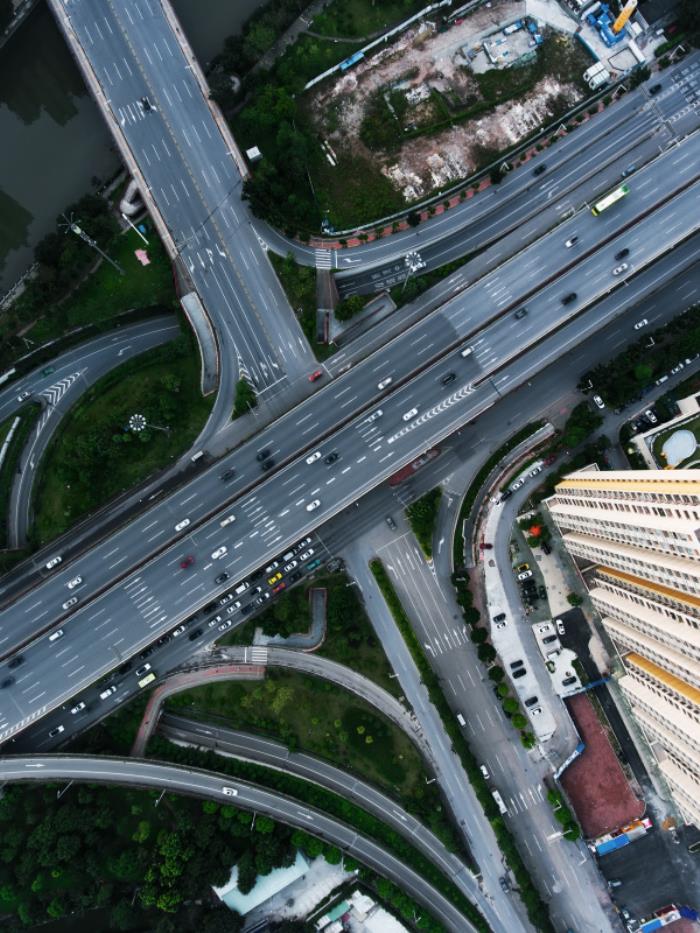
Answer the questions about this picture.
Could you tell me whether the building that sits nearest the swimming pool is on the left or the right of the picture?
right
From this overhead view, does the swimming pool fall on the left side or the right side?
right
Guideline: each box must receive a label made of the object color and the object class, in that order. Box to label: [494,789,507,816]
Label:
white vehicle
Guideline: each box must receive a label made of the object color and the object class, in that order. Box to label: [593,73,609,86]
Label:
white vehicle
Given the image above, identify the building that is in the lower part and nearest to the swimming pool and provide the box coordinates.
[541,472,700,853]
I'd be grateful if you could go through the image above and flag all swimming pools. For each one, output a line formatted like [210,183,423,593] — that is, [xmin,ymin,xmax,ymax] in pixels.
[664,427,700,472]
